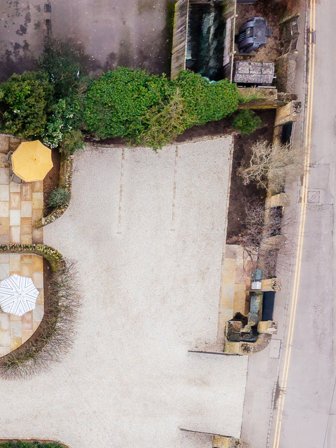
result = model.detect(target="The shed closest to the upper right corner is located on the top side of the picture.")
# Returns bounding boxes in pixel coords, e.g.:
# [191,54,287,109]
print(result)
[223,62,278,93]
